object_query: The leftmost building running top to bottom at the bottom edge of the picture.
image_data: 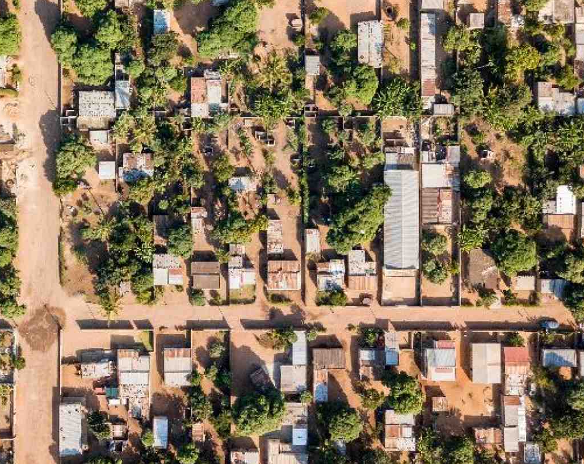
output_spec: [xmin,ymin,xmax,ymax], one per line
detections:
[59,403,83,455]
